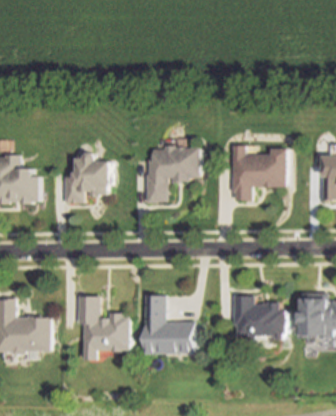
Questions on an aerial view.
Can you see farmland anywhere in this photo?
Yes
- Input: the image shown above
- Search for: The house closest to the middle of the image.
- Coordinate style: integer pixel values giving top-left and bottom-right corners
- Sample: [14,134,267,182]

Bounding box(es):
[145,138,202,204]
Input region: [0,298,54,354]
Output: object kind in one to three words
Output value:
house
